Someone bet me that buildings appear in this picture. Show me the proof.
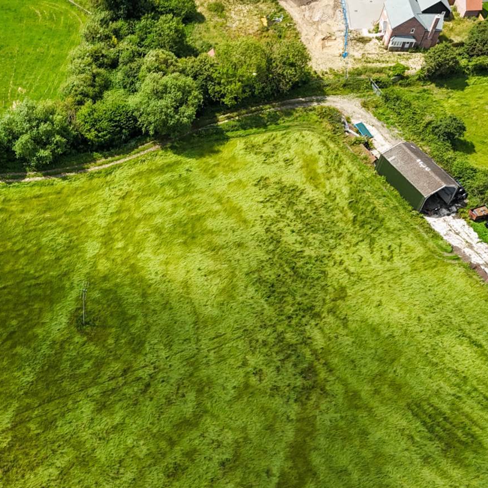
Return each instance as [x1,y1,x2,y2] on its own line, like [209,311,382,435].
[458,0,483,22]
[384,0,458,52]
[378,142,463,207]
